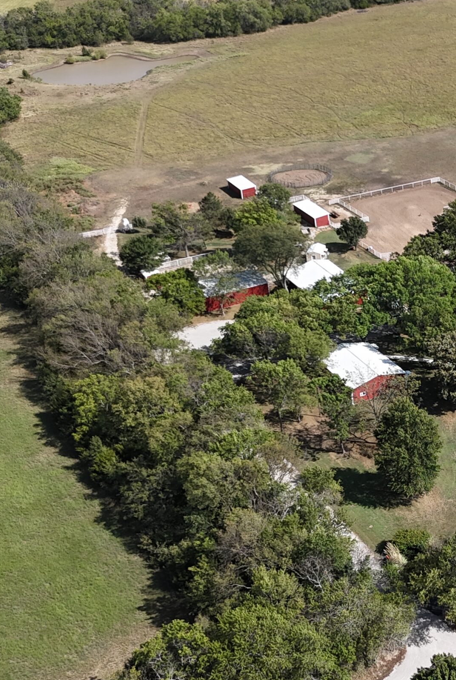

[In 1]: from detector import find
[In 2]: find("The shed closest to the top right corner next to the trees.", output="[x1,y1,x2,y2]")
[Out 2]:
[296,196,330,227]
